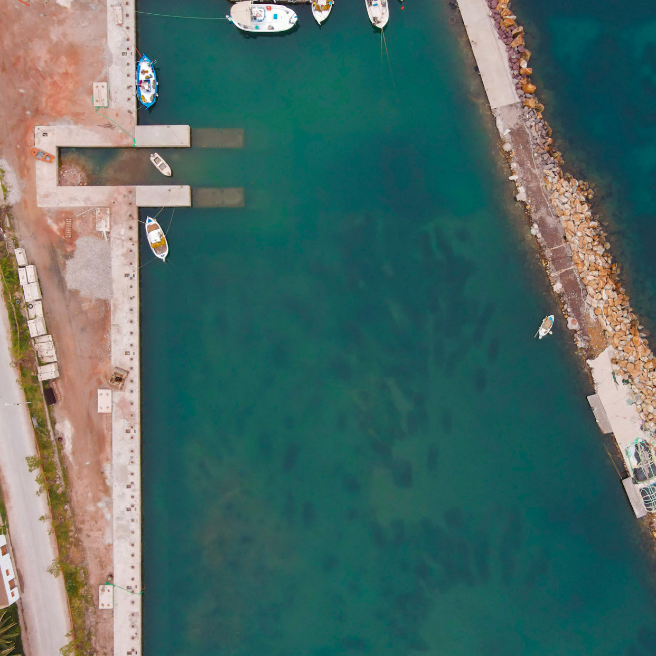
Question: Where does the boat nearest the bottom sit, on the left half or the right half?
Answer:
right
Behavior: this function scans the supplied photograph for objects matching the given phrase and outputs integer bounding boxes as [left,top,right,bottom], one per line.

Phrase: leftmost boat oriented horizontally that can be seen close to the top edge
[225,0,298,31]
